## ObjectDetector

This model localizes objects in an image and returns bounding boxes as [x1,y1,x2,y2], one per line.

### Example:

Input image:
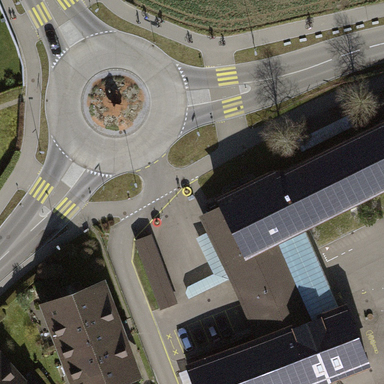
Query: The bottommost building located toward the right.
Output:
[176,304,370,384]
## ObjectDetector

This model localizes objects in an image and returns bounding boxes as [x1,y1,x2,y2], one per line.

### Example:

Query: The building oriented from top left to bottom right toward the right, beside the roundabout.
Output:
[199,210,310,330]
